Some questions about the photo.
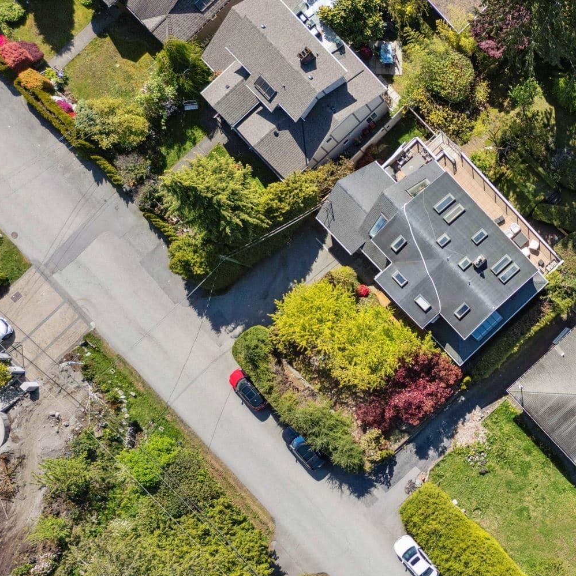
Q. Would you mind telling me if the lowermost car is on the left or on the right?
right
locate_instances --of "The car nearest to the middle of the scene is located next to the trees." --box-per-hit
[231,366,269,416]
